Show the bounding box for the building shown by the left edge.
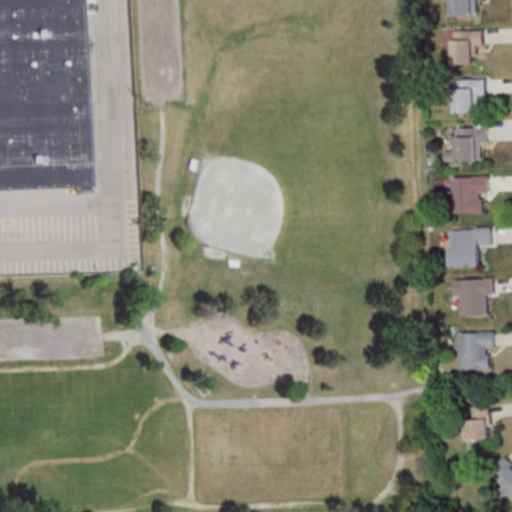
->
[0,0,90,192]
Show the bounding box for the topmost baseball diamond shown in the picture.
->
[188,156,284,258]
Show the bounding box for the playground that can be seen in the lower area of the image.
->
[175,312,310,390]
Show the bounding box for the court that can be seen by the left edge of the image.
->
[0,315,104,362]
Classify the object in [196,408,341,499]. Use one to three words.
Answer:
sports field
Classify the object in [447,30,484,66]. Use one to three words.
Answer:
house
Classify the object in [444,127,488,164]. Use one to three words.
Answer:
house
